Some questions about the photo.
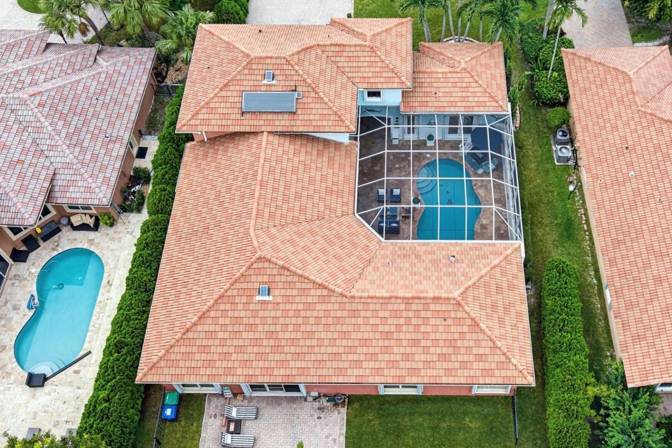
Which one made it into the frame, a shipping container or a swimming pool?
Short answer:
swimming pool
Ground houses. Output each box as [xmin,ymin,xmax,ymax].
[133,15,536,396]
[560,43,672,391]
[0,28,157,307]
